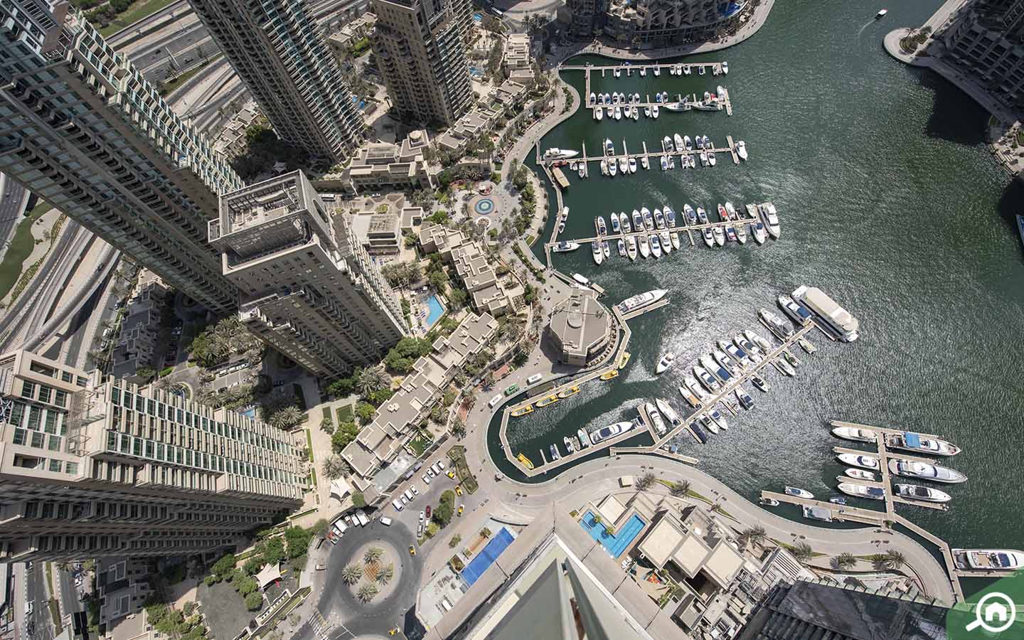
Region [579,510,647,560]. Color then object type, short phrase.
blue swimming pool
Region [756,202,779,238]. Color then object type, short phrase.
white boat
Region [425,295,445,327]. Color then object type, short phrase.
blue swimming pool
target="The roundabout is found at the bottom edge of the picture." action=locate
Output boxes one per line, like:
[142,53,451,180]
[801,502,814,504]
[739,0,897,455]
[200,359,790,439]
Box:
[308,518,422,640]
